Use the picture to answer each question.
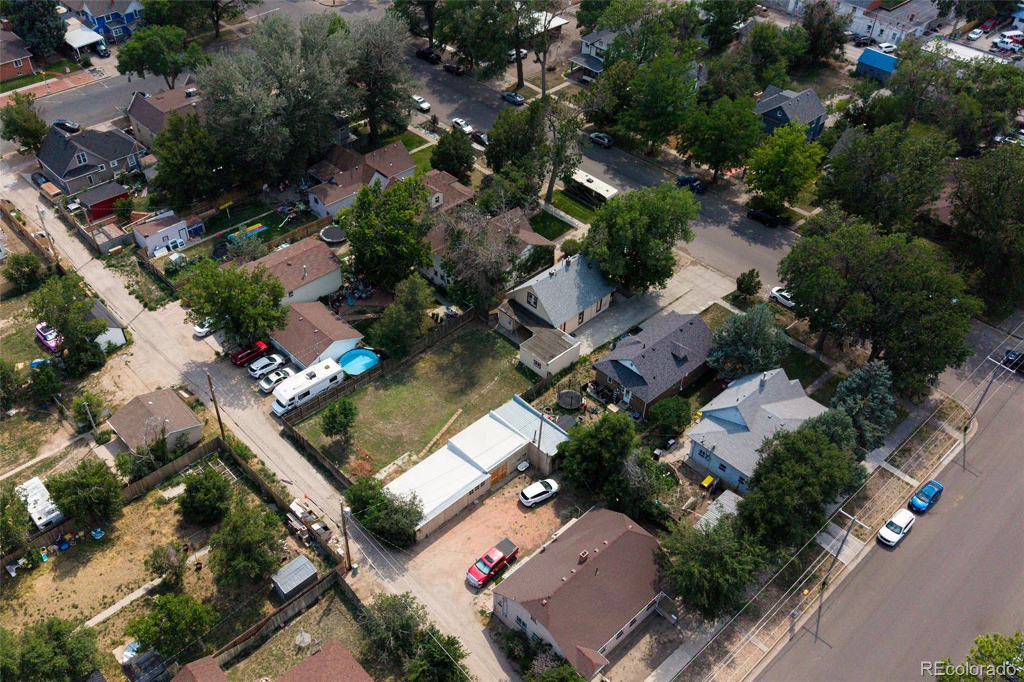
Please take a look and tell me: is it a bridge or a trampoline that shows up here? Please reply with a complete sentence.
There is a trampoline in the scene.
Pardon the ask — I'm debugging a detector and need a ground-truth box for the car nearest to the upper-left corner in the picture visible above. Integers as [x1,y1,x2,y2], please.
[92,41,112,57]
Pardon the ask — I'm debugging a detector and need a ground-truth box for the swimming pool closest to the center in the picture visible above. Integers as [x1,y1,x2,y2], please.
[339,348,379,381]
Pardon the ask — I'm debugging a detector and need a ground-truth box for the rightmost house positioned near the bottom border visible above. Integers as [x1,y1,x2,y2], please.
[485,506,700,682]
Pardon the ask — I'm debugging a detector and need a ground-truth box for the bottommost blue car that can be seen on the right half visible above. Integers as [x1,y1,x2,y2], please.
[910,482,942,517]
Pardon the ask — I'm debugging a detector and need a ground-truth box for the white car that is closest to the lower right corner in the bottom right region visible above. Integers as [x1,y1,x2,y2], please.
[877,507,916,548]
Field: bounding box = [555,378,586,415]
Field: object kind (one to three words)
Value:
trampoline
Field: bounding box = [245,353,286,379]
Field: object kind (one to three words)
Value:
car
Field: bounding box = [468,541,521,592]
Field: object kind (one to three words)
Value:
truck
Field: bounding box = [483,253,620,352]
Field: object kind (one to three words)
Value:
house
